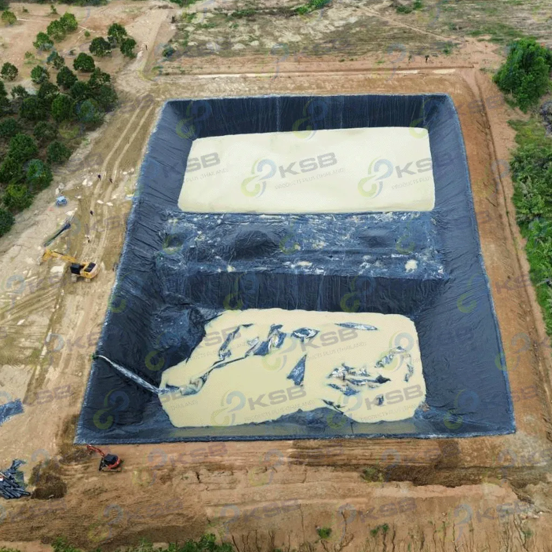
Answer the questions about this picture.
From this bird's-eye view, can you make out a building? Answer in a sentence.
No, there's no building here.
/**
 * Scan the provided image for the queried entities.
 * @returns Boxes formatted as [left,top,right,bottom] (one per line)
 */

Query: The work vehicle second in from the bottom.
[45,249,100,286]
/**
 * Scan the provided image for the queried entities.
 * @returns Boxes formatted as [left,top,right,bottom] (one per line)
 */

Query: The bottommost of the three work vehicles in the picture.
[91,445,121,476]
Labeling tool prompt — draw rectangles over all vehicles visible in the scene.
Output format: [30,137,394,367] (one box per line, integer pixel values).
[91,445,121,476]
[53,192,68,209]
[45,249,100,286]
